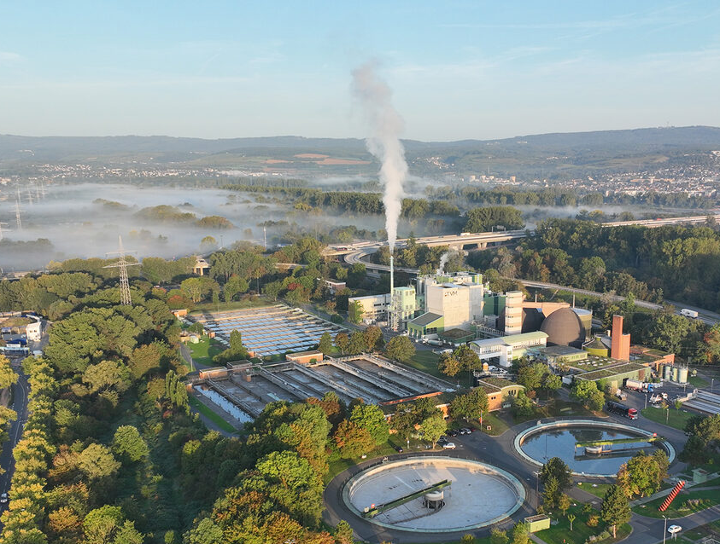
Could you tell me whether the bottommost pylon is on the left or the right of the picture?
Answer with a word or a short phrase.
left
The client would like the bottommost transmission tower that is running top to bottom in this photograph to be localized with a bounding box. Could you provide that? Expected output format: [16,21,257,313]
[112,237,134,307]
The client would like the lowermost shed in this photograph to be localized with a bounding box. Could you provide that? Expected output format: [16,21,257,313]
[525,510,548,533]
